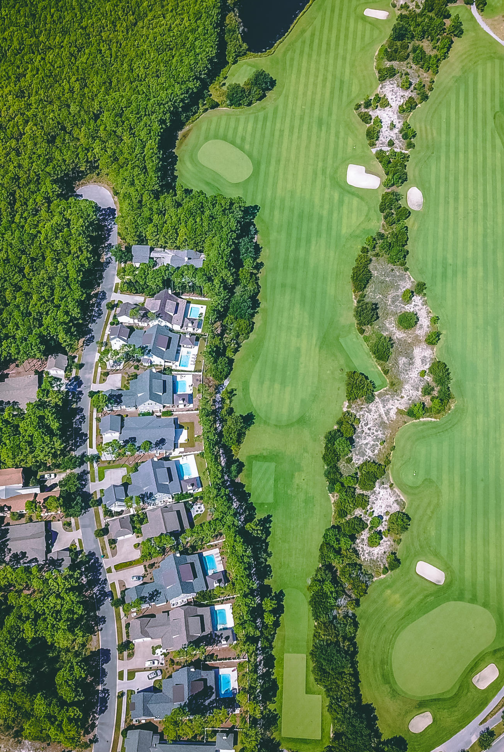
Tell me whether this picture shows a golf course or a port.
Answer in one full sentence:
What you see here is a golf course.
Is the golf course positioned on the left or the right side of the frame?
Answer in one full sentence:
The golf course sits on the right side.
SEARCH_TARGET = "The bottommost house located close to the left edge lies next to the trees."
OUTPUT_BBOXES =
[3,518,72,573]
